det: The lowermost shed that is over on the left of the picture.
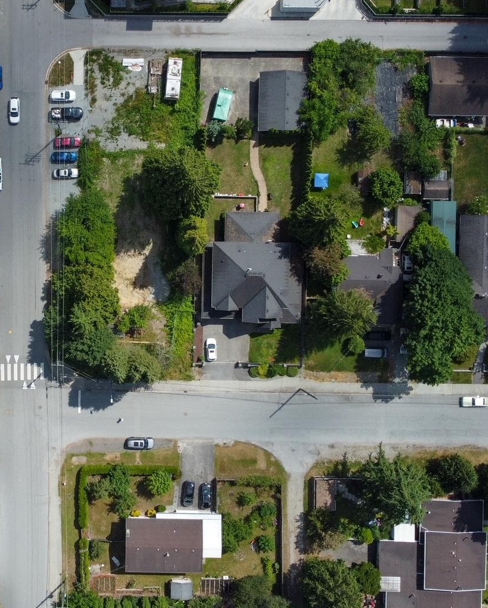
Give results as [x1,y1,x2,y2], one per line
[170,578,192,600]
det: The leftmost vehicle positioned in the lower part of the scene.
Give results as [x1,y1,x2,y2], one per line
[126,437,153,451]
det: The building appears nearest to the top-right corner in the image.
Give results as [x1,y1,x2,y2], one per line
[424,56,488,117]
